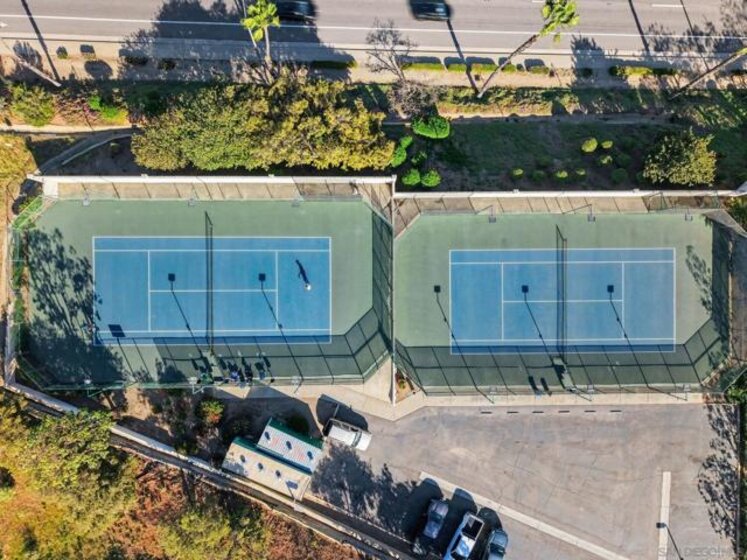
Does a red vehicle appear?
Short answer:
No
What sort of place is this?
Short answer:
sports ground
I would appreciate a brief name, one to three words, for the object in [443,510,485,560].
truck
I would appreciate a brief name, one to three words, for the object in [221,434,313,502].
shed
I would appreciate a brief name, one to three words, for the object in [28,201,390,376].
tennis court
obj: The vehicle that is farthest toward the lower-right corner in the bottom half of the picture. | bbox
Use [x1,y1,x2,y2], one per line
[478,524,506,560]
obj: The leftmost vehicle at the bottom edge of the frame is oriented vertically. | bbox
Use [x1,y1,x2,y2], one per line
[422,494,446,540]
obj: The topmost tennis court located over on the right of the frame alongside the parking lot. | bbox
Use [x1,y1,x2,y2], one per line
[397,214,729,387]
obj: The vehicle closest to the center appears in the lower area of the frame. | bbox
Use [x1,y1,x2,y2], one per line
[322,413,372,446]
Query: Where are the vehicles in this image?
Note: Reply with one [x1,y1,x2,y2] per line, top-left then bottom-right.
[408,0,451,20]
[322,413,372,446]
[478,524,506,560]
[422,494,446,540]
[443,510,485,560]
[267,0,314,21]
